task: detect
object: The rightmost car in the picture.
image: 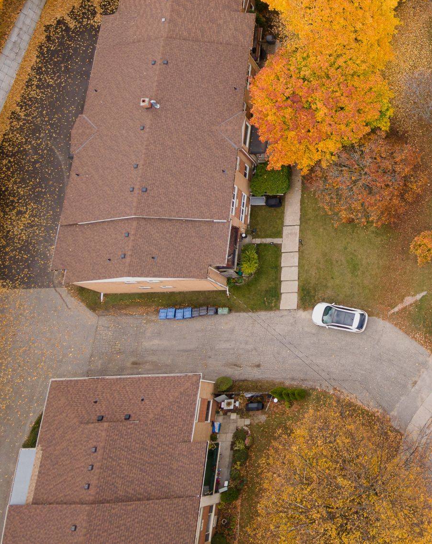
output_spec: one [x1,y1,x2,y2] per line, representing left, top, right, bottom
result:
[311,300,369,333]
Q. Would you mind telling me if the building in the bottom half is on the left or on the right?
left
